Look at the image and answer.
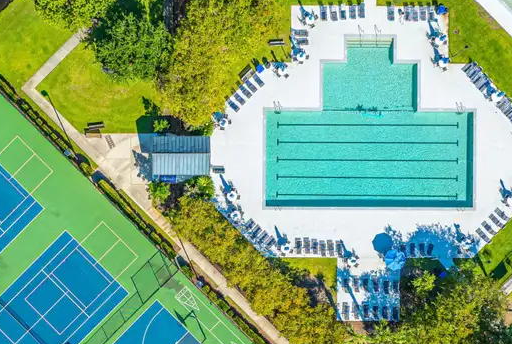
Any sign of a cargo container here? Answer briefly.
No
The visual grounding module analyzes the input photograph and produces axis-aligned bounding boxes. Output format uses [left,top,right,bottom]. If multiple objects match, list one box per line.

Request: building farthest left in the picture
[152,136,211,175]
